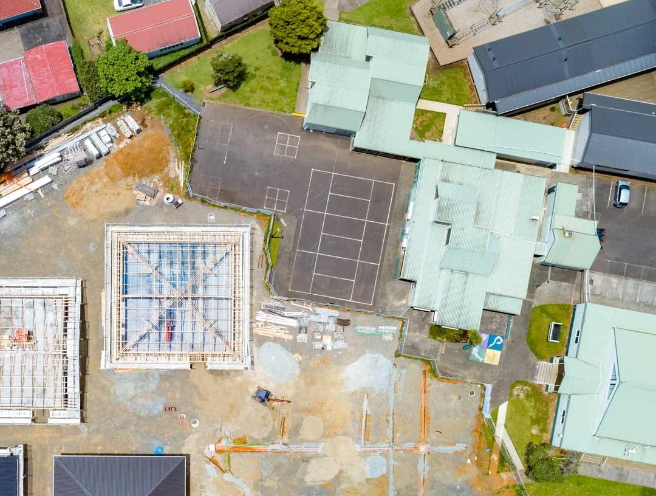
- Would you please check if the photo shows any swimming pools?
No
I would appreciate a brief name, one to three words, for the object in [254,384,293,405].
work vehicle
